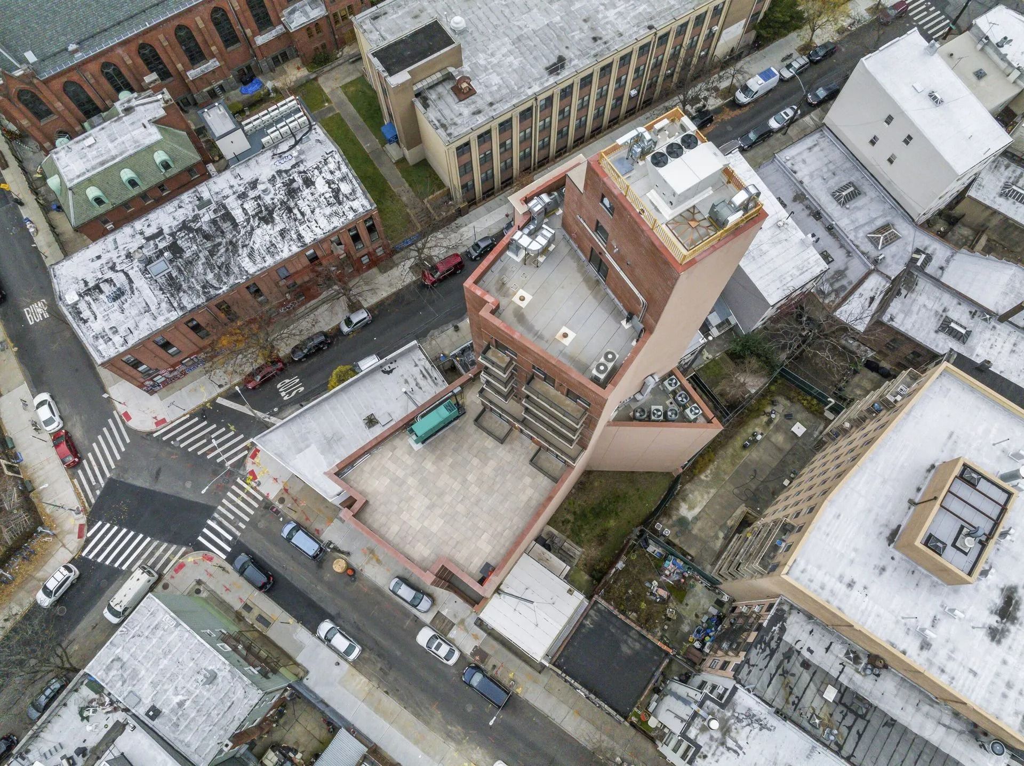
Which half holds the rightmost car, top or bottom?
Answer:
top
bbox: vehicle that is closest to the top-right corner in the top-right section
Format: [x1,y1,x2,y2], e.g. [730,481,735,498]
[873,0,915,29]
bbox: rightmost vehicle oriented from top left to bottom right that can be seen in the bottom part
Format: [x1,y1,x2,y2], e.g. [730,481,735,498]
[456,659,516,717]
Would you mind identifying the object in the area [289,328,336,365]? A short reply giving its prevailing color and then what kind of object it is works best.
black car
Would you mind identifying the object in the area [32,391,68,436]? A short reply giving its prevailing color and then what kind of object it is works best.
white car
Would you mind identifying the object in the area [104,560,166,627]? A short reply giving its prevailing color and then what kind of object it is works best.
white van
